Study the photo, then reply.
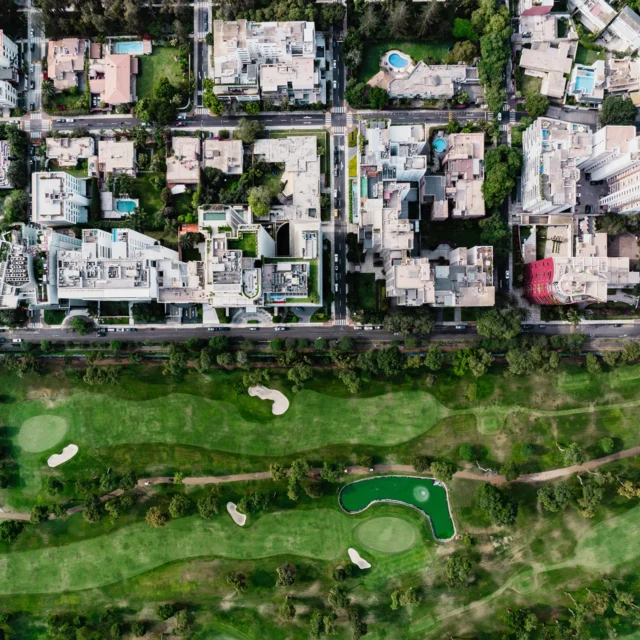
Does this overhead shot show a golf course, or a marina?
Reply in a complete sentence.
The picture captures a golf course.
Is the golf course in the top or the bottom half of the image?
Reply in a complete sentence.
The golf course is in the bottom half of the image.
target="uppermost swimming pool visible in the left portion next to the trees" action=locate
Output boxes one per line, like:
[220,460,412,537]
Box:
[116,40,144,53]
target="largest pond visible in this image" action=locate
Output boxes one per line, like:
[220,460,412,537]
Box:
[338,475,455,542]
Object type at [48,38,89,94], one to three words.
house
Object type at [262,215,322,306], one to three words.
building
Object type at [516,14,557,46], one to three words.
house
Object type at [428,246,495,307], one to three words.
building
